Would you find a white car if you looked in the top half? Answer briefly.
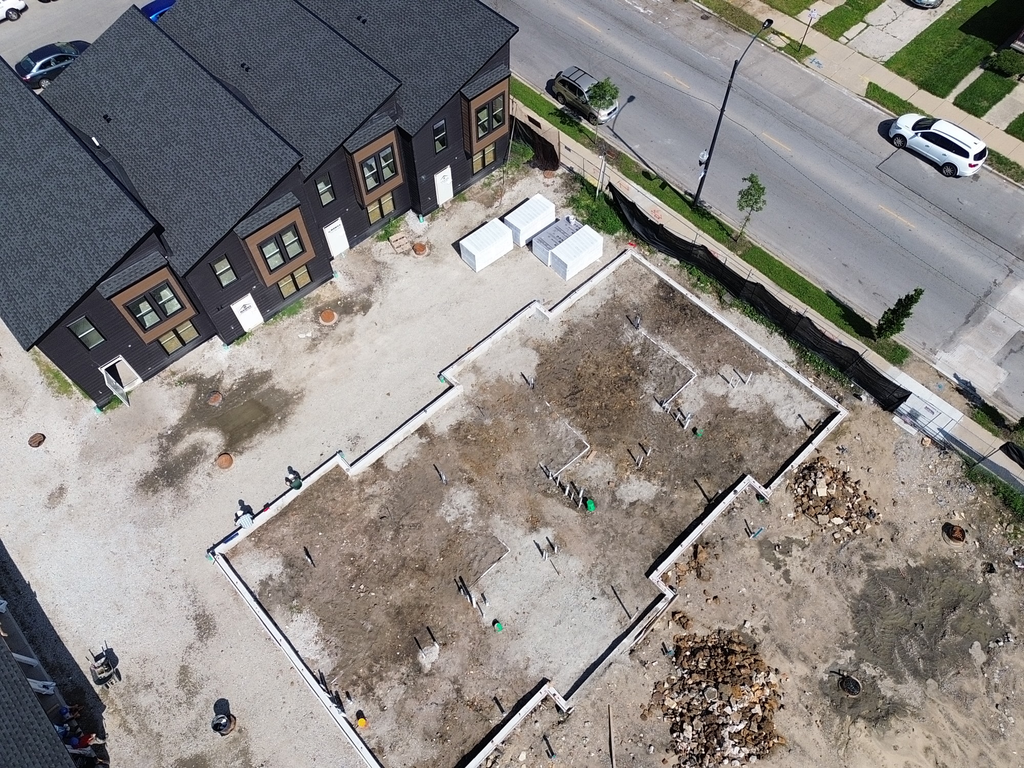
Yes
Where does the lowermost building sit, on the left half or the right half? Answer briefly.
left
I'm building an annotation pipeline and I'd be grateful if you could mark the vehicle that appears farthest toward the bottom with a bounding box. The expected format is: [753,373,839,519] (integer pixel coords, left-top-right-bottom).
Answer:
[887,116,992,184]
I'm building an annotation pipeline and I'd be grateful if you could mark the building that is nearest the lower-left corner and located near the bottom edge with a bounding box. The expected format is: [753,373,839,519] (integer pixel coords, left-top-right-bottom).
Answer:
[0,581,107,768]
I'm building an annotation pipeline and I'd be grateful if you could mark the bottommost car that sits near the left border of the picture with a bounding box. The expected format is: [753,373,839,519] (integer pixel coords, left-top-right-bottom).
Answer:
[10,39,93,86]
